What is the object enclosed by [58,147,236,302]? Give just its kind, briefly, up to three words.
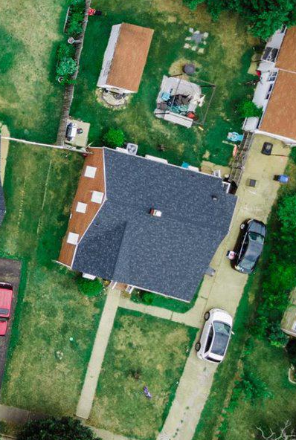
house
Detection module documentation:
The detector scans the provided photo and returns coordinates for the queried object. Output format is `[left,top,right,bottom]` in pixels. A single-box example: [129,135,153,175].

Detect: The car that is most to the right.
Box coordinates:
[224,216,266,276]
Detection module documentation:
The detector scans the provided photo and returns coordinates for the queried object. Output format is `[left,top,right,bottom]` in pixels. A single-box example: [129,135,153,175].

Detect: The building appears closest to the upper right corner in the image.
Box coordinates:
[225,28,296,144]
